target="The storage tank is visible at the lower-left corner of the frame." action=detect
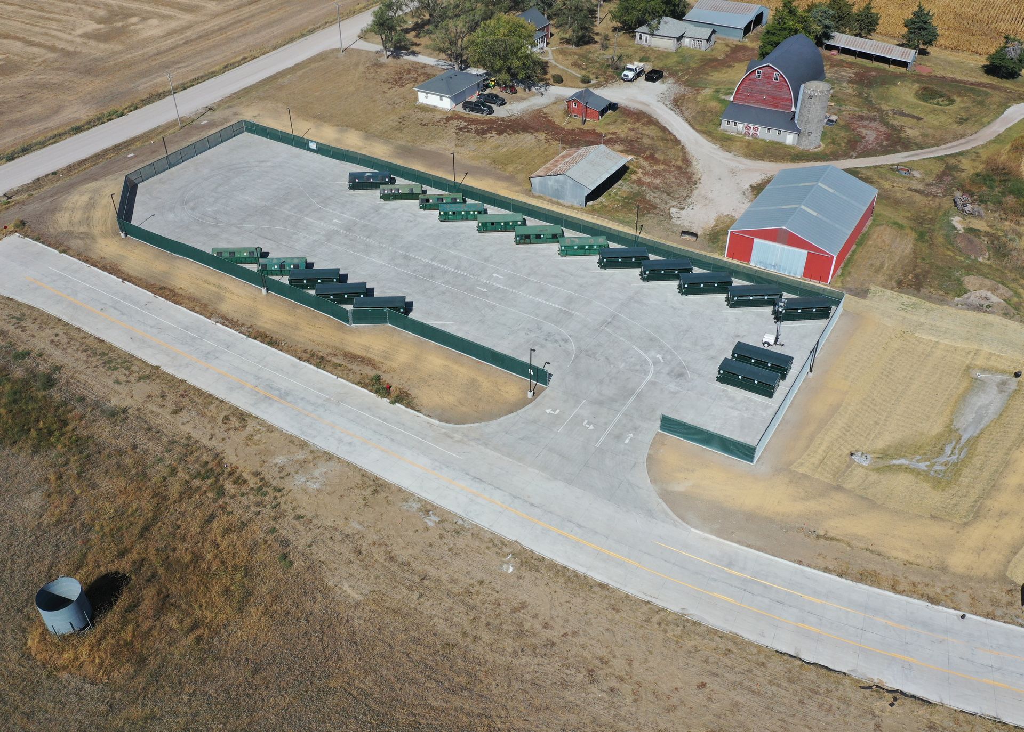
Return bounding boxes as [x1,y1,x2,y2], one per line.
[35,574,93,642]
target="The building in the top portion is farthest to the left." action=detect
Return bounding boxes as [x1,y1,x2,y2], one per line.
[412,68,486,111]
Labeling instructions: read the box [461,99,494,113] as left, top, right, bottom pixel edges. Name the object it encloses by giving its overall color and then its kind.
black vehicle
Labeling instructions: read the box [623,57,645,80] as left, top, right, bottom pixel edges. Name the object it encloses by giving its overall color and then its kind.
white truck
